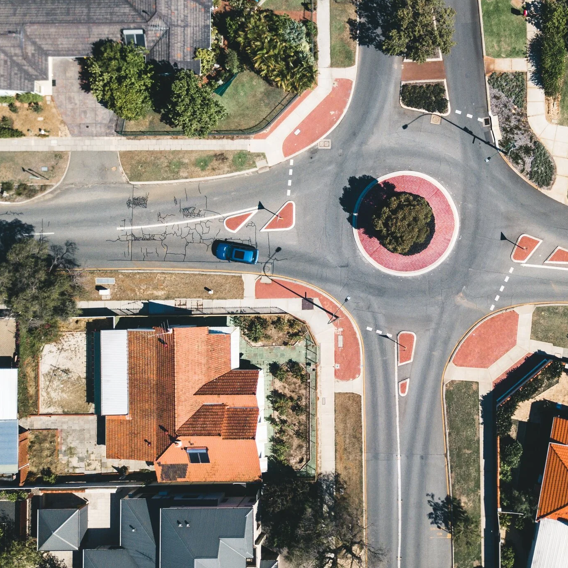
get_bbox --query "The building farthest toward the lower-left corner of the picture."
[36,501,89,551]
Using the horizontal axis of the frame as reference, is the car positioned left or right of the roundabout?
left of it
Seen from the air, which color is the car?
blue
